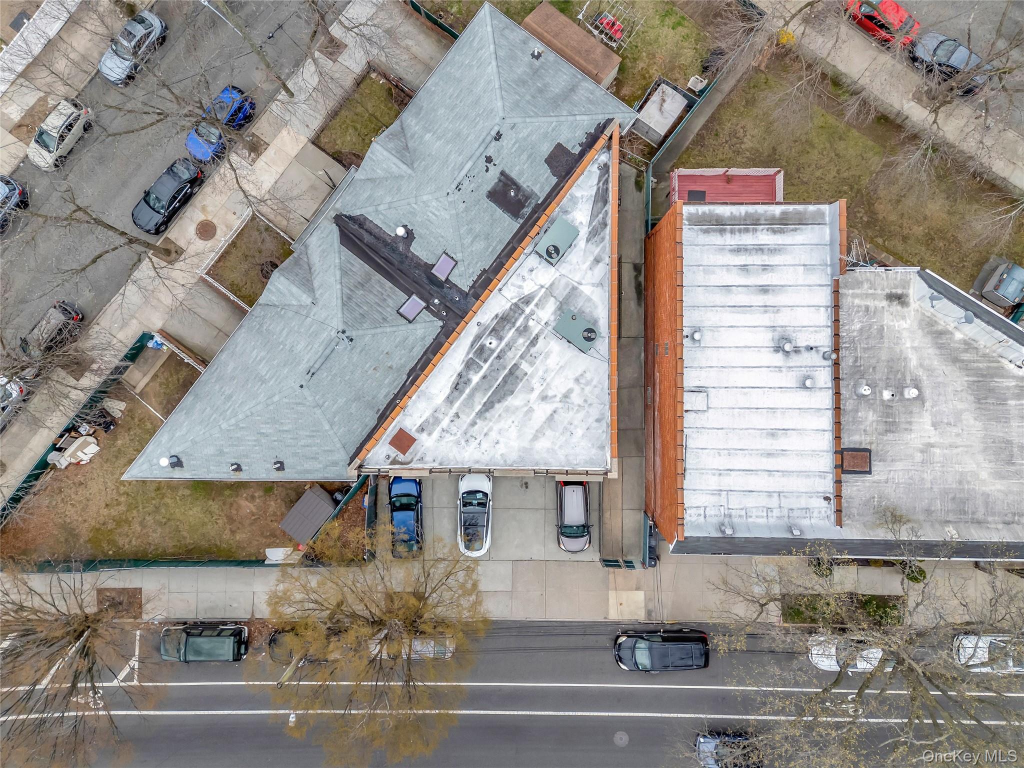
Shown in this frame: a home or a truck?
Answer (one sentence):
I can see a home in this picture.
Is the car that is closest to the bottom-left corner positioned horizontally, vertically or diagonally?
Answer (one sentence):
What the image shows is the car that is closest to the bottom-left corner lying horizontally.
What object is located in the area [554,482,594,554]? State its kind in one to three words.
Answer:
car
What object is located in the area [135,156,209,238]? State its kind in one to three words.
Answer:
car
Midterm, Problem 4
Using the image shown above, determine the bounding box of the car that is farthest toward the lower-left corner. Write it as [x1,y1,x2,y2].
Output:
[164,624,247,666]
